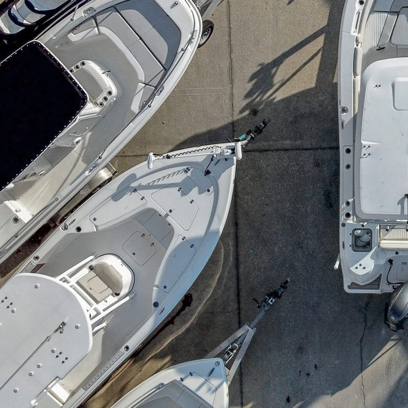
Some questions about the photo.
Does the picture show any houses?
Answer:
No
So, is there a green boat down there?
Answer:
No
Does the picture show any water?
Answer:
No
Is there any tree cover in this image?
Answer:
No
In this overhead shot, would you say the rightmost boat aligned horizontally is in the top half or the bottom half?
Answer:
bottom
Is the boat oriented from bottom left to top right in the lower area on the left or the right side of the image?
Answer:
left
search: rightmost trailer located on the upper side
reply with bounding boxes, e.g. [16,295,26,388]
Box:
[232,110,283,170]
